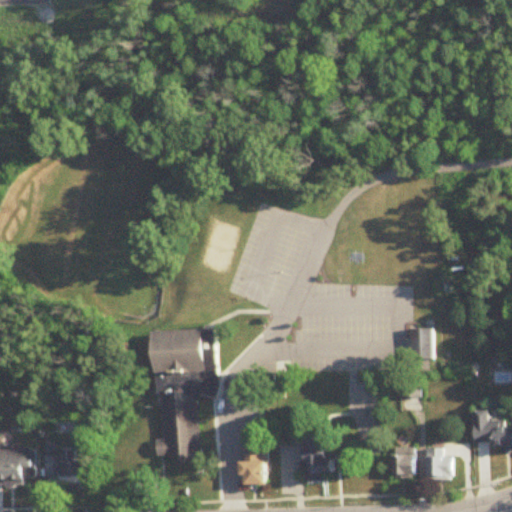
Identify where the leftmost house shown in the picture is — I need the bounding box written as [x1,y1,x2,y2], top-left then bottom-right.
[0,449,32,486]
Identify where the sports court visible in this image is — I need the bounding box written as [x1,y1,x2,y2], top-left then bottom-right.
[202,218,241,274]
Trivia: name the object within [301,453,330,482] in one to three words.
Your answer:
house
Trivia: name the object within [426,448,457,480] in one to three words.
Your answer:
house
